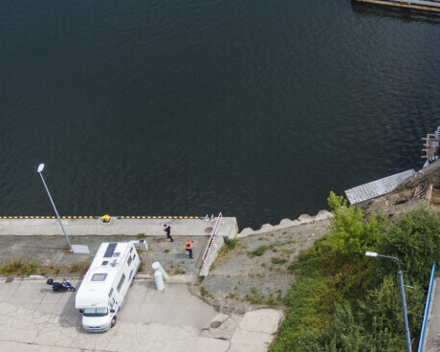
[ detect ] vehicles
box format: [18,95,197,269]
[80,229,148,329]
[39,278,72,293]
